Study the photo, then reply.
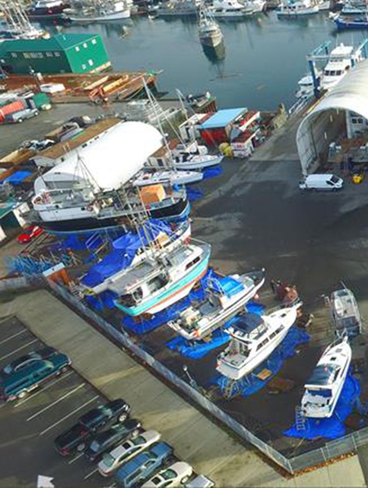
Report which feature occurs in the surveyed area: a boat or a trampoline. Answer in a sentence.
There is a boat in the scene.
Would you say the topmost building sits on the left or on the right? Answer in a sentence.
It is on the left.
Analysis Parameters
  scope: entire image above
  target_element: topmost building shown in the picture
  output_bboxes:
[0,28,113,73]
